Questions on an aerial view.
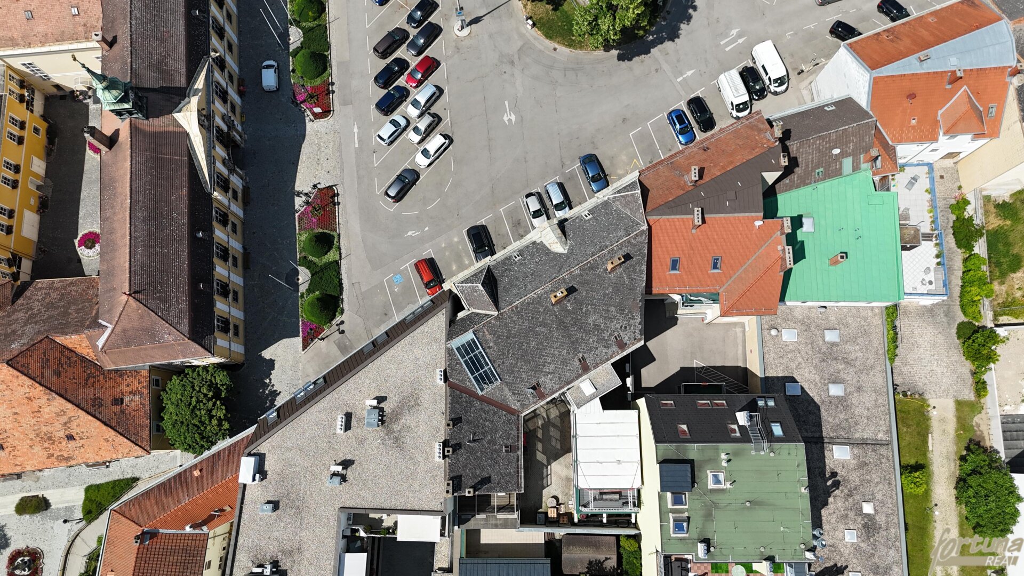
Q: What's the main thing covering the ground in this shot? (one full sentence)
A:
The largest share of the image is taken up by buildings.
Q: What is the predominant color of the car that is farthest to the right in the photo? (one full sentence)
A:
From above, the car that is farthest to the right appears black.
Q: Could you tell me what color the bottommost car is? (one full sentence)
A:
In this view, the bottommost car is red.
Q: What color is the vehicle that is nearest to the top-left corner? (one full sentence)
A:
In this view, the vehicle that is nearest to the top-left corner is blue.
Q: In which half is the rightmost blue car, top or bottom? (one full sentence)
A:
The top half of the photo is where the rightmost blue car is.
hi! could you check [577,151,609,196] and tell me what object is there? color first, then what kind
blue car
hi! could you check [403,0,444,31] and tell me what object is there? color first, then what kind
black car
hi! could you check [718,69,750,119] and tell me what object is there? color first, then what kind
white van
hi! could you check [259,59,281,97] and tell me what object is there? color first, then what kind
blue vehicle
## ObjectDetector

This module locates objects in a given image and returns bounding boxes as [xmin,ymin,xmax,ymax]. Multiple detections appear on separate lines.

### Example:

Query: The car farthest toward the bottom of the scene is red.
[413,255,447,300]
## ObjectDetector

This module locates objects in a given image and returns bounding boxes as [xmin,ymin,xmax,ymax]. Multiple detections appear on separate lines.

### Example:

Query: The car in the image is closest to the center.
[465,221,497,263]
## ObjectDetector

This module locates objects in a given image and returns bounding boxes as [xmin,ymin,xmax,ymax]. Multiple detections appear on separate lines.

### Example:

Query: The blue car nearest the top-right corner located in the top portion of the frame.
[665,106,696,148]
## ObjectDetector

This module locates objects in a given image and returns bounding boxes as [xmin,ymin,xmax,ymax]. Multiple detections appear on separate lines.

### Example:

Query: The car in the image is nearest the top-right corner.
[872,0,911,22]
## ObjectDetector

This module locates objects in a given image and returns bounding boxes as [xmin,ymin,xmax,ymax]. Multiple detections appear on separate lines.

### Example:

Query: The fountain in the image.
[3,544,42,576]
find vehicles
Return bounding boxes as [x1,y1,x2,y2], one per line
[373,86,412,118]
[403,0,444,31]
[825,18,859,43]
[404,55,442,89]
[259,59,281,97]
[404,82,445,120]
[684,94,717,136]
[872,0,911,22]
[750,38,789,96]
[577,151,609,196]
[405,109,446,147]
[518,188,551,232]
[370,27,413,60]
[382,169,422,204]
[740,64,769,103]
[465,221,497,263]
[665,106,696,148]
[405,22,447,57]
[415,132,453,168]
[372,58,412,90]
[413,255,447,300]
[541,177,573,220]
[718,69,750,119]
[373,115,413,148]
